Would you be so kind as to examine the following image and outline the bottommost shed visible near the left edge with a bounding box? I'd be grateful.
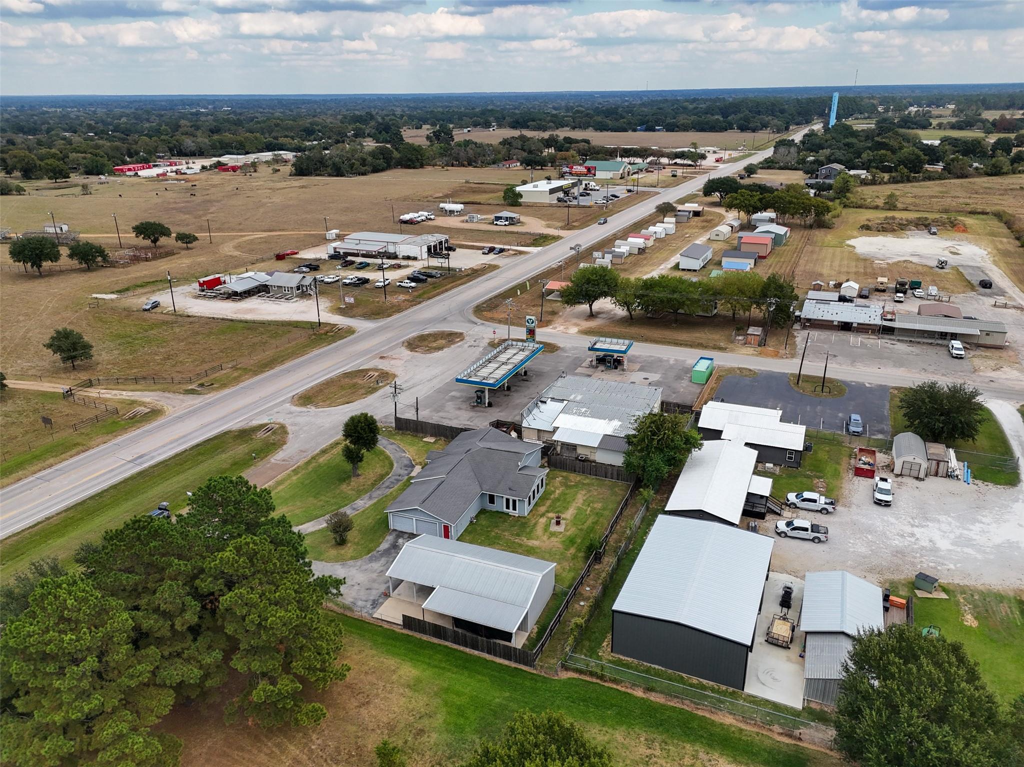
[45,221,76,234]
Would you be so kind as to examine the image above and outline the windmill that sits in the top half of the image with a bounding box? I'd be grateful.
[567,233,586,279]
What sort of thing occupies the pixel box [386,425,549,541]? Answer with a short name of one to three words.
house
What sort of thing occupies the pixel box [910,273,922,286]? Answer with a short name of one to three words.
vehicle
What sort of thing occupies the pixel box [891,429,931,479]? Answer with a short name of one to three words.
shed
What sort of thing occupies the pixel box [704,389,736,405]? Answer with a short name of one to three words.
car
